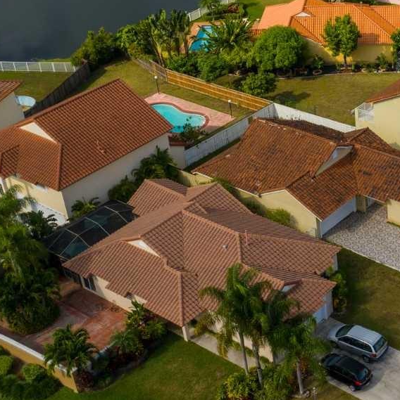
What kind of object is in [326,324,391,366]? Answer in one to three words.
car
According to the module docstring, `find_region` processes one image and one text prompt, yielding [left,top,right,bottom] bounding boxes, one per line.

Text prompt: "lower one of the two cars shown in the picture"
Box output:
[318,355,376,392]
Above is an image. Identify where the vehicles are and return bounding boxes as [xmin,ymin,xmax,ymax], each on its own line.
[318,355,376,392]
[326,324,391,366]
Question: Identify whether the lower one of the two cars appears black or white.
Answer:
black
